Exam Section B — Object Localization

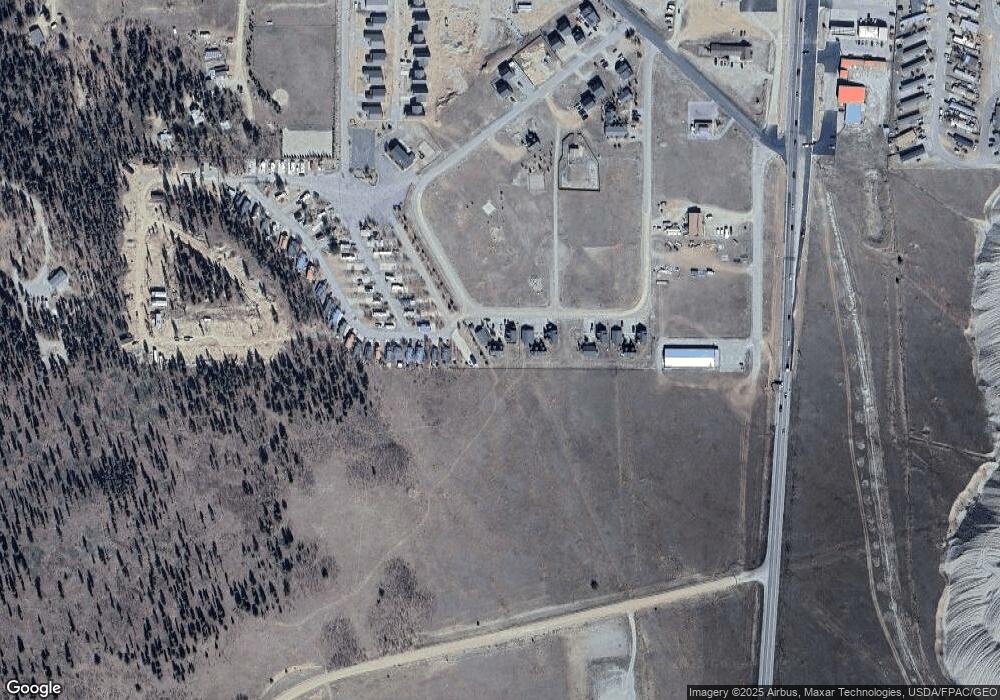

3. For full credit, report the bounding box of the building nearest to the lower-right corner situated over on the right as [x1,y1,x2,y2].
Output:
[665,348,720,368]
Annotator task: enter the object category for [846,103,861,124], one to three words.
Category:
building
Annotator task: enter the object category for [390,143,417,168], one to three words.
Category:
building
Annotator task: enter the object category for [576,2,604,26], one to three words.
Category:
house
